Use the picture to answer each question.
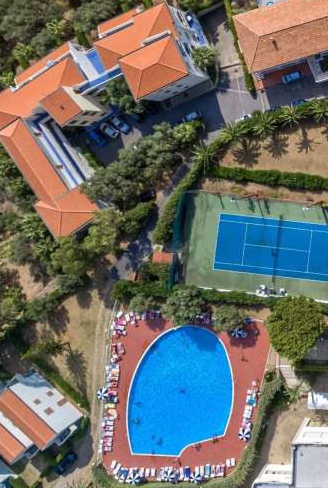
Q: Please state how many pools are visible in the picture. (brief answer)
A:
1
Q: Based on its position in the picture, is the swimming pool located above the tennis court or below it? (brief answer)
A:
below it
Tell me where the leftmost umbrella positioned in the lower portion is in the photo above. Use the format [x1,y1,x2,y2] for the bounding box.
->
[96,387,109,400]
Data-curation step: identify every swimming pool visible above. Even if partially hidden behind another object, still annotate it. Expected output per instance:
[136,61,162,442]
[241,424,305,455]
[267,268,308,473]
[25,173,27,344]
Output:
[103,310,268,482]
